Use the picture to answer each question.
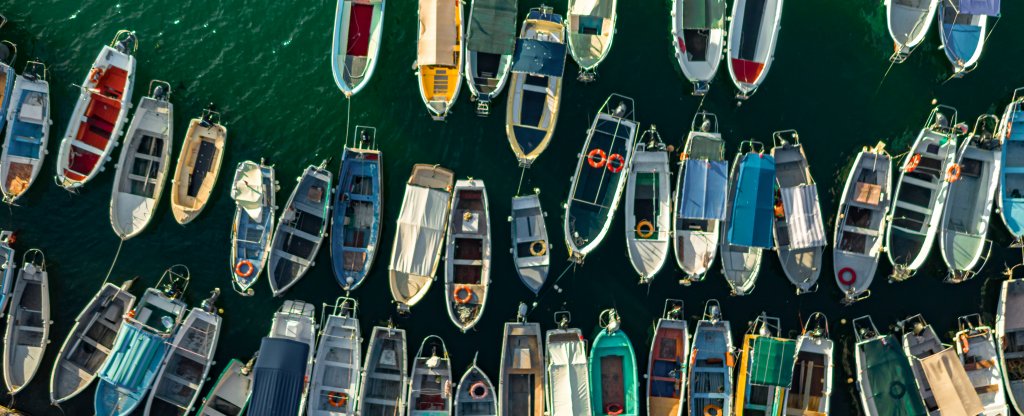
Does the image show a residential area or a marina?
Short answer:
marina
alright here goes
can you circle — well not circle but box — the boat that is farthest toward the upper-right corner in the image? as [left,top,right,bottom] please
[935,0,1001,76]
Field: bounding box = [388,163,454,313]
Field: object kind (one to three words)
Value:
boat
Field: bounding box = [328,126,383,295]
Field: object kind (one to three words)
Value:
boat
